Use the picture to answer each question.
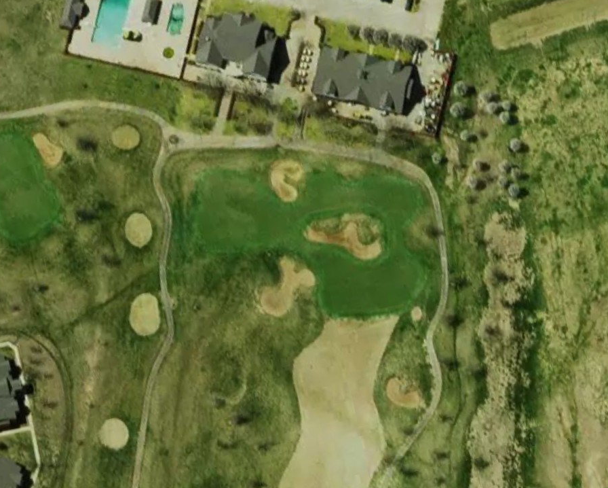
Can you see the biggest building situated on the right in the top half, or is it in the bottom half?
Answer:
top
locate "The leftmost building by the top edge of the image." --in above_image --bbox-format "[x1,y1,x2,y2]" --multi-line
[59,0,87,31]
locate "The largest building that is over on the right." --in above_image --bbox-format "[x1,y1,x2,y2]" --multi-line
[318,47,419,110]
